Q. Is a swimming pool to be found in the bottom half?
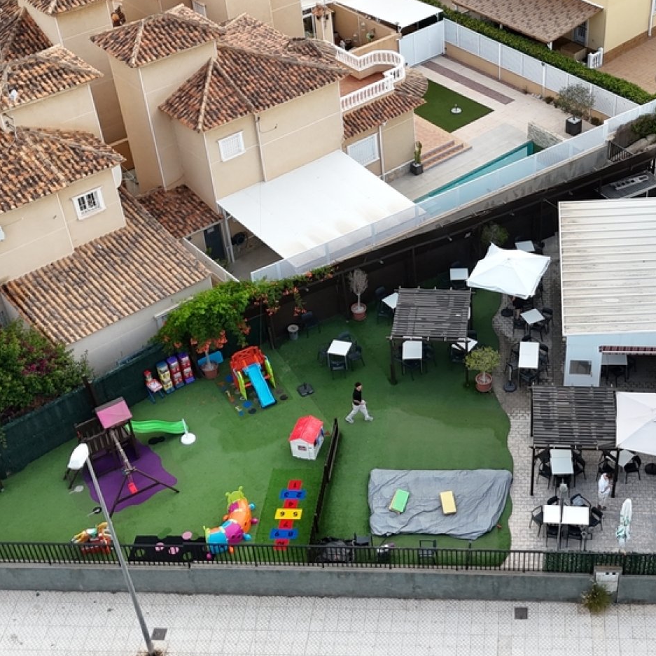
No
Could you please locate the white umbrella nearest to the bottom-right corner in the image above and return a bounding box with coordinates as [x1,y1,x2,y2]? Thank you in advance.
[611,499,633,555]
